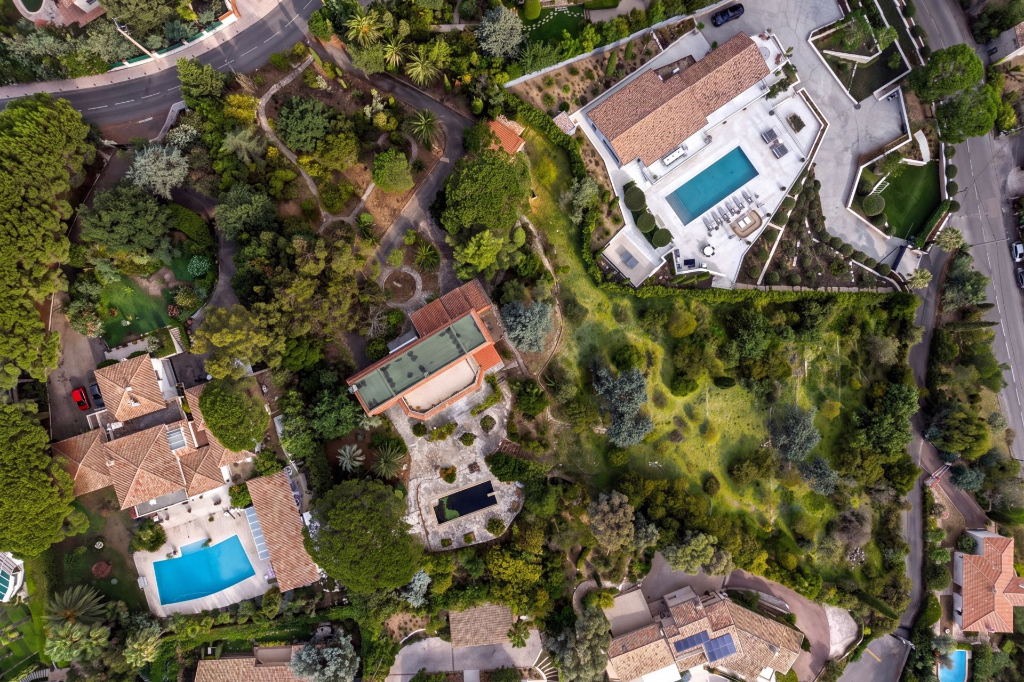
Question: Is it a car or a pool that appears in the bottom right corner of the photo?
pool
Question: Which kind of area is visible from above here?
residential area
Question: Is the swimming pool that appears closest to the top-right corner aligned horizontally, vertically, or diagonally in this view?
diagonally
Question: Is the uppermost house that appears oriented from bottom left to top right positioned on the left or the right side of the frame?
right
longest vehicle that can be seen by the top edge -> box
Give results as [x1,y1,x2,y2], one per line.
[710,3,745,27]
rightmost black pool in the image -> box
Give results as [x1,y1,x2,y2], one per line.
[431,478,501,527]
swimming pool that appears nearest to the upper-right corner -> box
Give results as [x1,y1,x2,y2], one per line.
[661,141,763,230]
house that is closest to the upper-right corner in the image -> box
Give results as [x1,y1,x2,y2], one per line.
[987,21,1024,69]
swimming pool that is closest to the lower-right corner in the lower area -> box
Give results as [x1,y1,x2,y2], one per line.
[938,648,968,682]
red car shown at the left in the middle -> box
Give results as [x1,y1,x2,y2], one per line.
[72,386,92,411]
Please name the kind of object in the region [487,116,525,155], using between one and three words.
shed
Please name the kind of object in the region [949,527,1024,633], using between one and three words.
house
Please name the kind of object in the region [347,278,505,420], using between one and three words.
house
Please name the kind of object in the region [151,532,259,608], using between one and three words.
swimming pool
